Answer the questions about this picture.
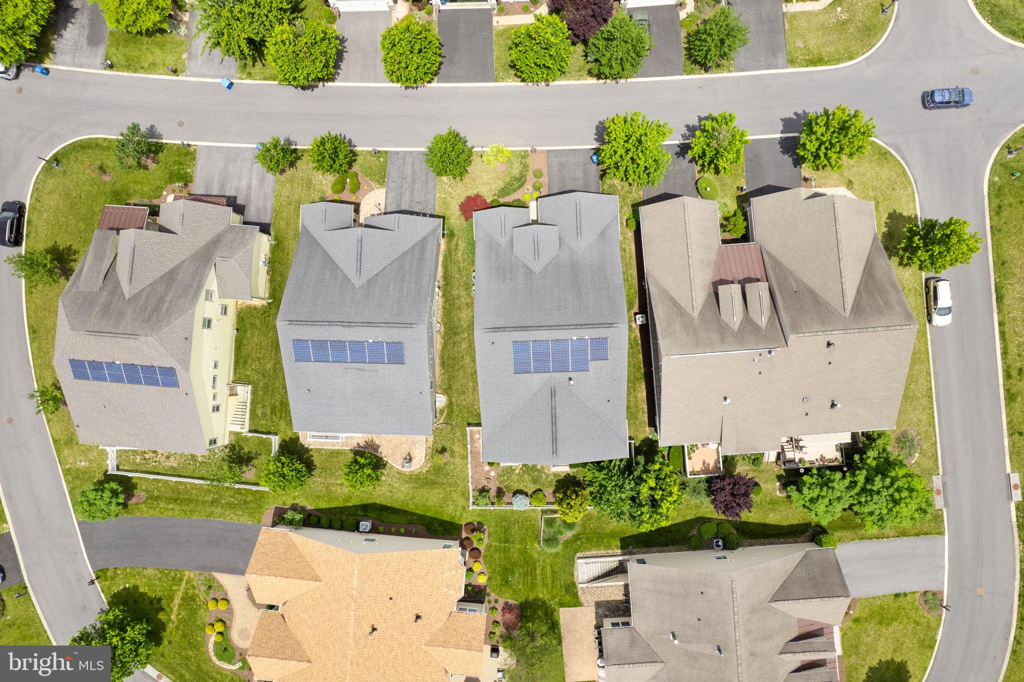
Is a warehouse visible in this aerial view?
No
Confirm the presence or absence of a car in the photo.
Yes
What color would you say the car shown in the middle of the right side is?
white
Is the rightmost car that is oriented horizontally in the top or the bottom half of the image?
top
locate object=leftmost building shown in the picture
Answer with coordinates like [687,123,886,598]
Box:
[53,195,277,455]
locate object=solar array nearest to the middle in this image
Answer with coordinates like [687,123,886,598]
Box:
[512,338,609,375]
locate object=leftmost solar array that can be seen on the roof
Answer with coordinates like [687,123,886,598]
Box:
[68,358,179,389]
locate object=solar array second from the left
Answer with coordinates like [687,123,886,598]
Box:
[291,339,405,364]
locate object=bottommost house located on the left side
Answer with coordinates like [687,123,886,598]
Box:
[245,519,493,682]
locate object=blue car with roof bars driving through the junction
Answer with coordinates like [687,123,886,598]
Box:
[921,85,970,111]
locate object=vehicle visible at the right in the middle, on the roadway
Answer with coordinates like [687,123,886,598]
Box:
[927,278,954,326]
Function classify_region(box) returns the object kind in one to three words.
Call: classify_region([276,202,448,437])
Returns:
house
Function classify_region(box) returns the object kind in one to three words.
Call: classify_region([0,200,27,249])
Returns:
car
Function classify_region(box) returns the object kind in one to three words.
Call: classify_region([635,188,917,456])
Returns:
house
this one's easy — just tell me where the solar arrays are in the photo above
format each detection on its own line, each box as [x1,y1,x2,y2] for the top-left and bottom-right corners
[291,339,405,364]
[68,358,179,389]
[512,338,609,375]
